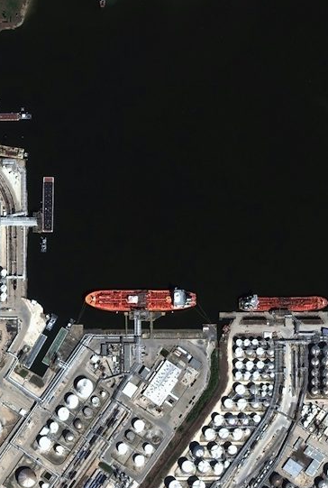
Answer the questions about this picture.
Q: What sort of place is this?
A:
industrial area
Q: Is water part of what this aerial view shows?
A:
Yes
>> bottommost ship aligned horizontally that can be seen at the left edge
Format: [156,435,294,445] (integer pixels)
[0,147,25,159]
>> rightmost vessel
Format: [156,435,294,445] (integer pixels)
[239,293,328,311]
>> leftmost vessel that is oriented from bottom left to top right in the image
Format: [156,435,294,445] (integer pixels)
[24,335,47,369]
